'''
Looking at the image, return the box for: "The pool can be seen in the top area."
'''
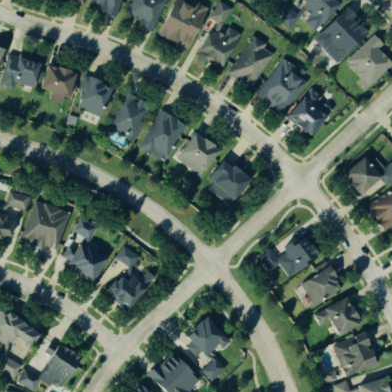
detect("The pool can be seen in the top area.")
[108,131,128,148]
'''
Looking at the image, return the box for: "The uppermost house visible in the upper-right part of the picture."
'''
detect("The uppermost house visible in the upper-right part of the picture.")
[281,0,344,32]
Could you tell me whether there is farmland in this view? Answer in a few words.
No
